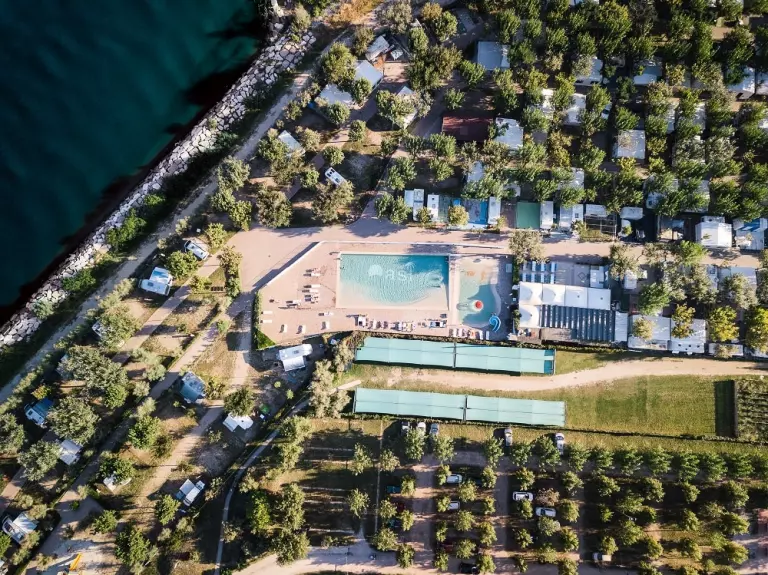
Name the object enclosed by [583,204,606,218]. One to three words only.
camper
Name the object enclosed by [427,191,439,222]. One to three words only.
vehicle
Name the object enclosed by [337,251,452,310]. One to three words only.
swimming pool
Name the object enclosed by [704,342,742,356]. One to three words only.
camper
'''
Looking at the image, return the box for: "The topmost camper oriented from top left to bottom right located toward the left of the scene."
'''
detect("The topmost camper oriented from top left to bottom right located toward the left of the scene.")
[278,131,305,160]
